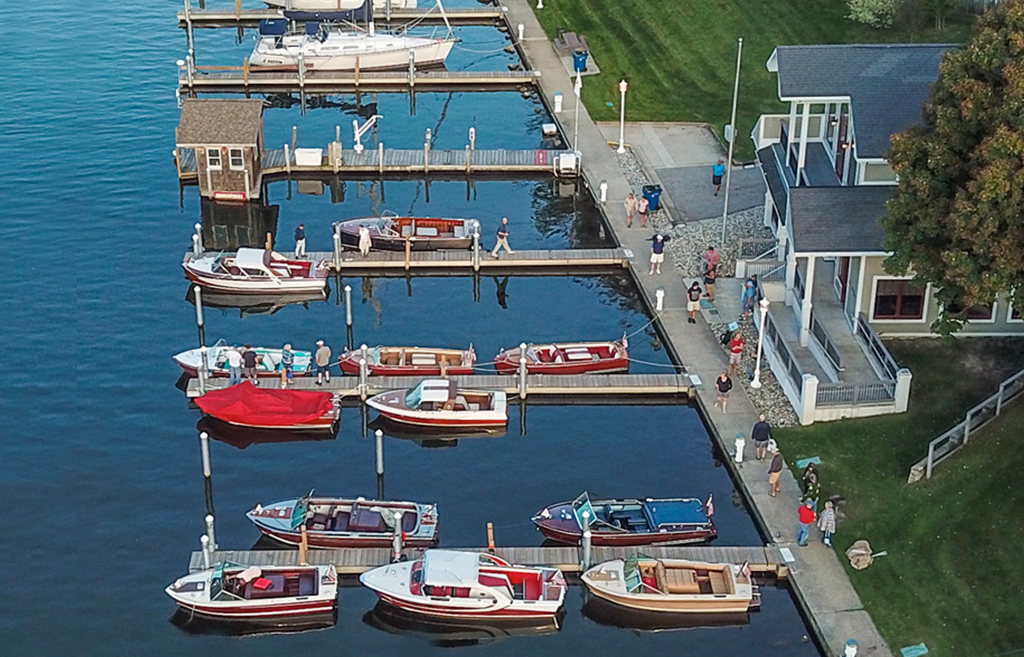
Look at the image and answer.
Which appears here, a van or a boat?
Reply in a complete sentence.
Visible in the photo is a boat.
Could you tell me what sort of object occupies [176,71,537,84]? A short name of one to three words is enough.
pier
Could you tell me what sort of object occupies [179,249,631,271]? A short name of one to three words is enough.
pier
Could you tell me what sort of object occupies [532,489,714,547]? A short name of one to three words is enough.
boat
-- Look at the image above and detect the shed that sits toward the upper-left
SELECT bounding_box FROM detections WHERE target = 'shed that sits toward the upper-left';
[173,99,269,198]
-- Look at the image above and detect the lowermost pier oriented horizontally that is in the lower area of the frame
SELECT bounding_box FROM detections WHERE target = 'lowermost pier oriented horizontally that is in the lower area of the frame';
[186,546,779,579]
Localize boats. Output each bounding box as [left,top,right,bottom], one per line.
[165,559,336,621]
[193,384,344,431]
[581,551,764,614]
[365,376,506,428]
[359,546,566,618]
[332,212,473,250]
[252,0,460,72]
[182,248,339,293]
[494,326,628,379]
[338,333,474,384]
[245,491,436,549]
[532,489,714,547]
